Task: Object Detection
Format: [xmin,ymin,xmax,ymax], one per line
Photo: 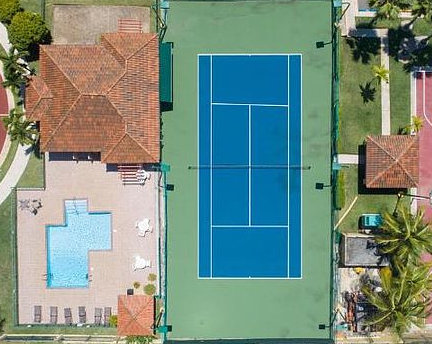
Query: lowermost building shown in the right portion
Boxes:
[342,234,386,266]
